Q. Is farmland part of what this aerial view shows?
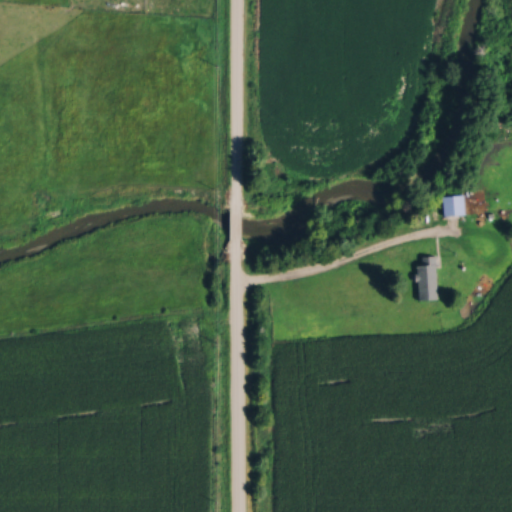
Yes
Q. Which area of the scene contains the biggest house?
right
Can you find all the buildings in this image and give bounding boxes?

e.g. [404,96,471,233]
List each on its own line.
[416,256,440,301]
[444,195,466,218]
